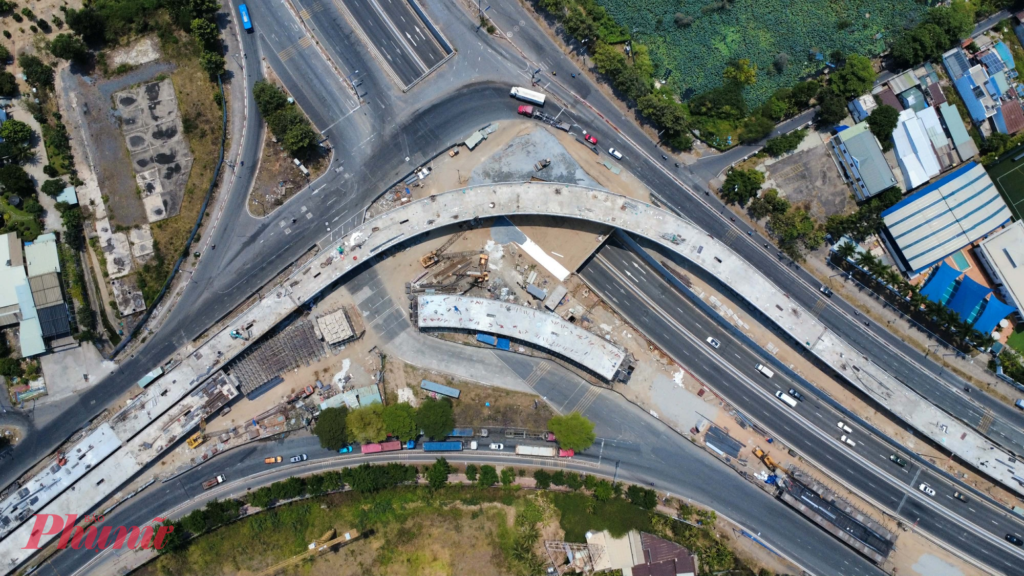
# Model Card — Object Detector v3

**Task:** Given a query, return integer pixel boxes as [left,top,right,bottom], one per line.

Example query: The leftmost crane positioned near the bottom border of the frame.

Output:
[250,519,360,576]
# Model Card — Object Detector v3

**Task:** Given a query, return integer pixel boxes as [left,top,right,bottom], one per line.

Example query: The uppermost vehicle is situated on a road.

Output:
[239,5,255,35]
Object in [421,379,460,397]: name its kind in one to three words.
building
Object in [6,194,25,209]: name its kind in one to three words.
gazebo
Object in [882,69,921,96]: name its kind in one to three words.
house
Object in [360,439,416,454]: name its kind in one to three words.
vehicle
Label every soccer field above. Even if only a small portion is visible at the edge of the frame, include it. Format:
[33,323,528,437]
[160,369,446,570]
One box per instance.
[982,140,1024,220]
